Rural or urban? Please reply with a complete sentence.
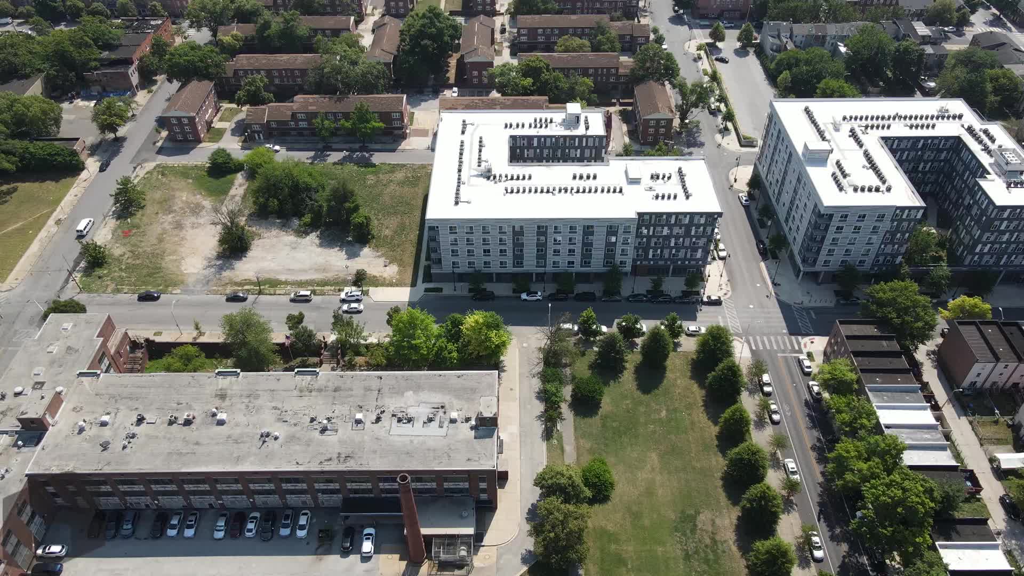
It looks urban.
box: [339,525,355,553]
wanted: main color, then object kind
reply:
black car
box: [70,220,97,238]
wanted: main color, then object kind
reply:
white vehicle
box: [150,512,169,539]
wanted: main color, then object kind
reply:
black car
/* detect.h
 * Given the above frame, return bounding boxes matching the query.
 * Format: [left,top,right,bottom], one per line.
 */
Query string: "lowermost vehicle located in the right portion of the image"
[806,533,826,562]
